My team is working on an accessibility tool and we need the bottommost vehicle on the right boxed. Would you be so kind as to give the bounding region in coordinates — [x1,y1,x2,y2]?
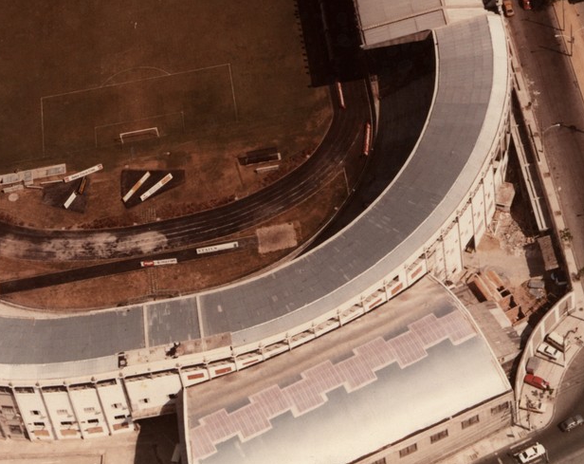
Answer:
[518,442,545,463]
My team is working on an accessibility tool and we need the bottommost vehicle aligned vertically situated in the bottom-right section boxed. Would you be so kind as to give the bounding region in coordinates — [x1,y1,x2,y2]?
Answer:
[527,347,541,372]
